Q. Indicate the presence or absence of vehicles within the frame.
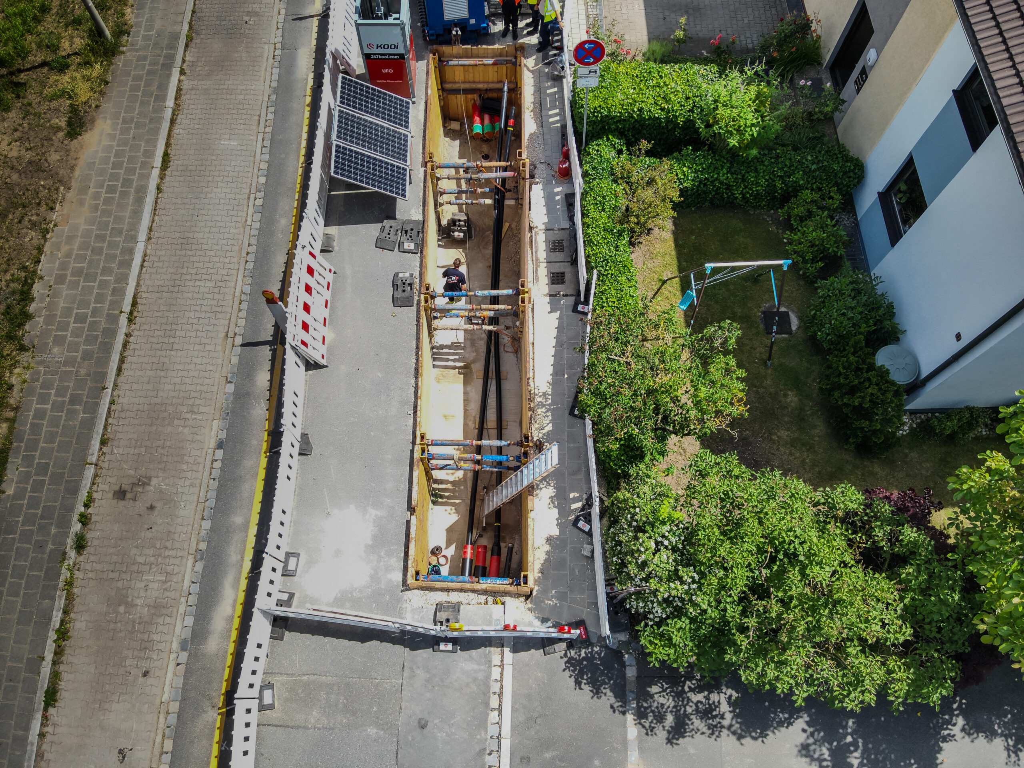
No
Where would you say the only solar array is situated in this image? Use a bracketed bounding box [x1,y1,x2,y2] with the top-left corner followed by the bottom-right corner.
[326,74,412,211]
